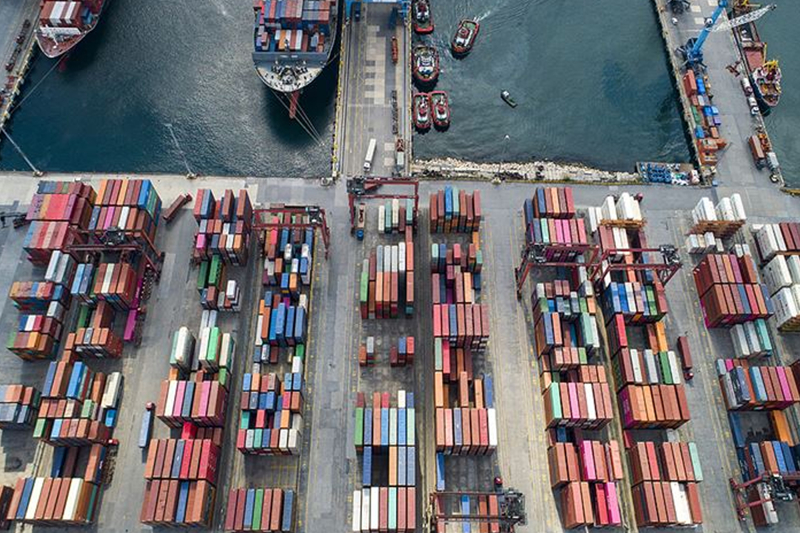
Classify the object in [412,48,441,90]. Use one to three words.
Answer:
boat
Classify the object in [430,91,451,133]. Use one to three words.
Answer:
boat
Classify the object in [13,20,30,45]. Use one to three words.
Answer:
vehicle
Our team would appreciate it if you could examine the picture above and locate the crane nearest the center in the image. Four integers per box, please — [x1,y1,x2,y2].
[346,177,420,232]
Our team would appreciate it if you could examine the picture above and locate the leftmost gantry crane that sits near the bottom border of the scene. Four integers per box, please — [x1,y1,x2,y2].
[427,488,523,530]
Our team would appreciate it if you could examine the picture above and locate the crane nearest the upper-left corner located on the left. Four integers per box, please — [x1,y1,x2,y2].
[61,227,166,280]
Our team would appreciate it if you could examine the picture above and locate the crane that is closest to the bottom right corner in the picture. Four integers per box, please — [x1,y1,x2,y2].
[731,472,800,513]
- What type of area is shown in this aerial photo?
port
